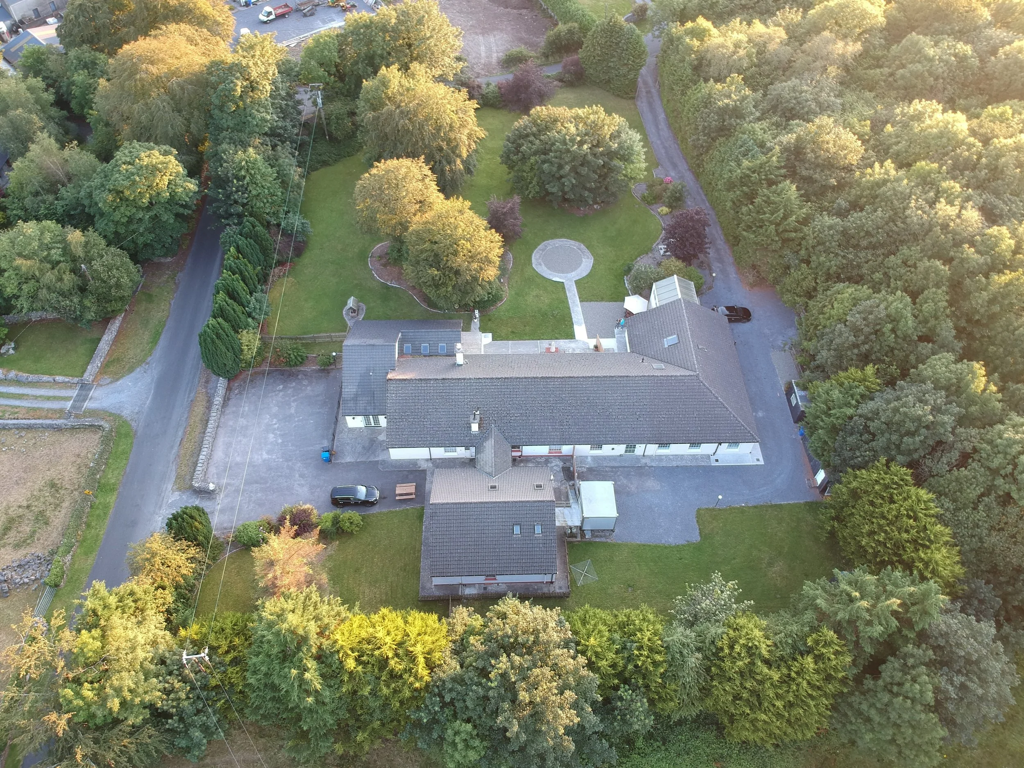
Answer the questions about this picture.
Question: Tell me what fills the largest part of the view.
trees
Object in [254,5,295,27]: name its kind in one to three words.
truck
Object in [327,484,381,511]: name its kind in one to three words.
car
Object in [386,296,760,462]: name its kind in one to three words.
house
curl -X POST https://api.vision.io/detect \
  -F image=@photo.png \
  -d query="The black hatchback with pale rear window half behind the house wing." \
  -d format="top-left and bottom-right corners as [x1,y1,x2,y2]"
[713,307,753,327]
